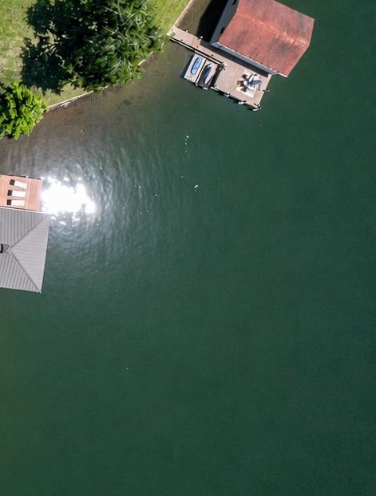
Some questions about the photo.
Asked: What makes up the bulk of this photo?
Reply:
water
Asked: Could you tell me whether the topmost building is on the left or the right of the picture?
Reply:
right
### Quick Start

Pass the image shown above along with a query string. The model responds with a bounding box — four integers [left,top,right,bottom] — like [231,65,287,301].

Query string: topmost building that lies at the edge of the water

[202,0,314,77]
